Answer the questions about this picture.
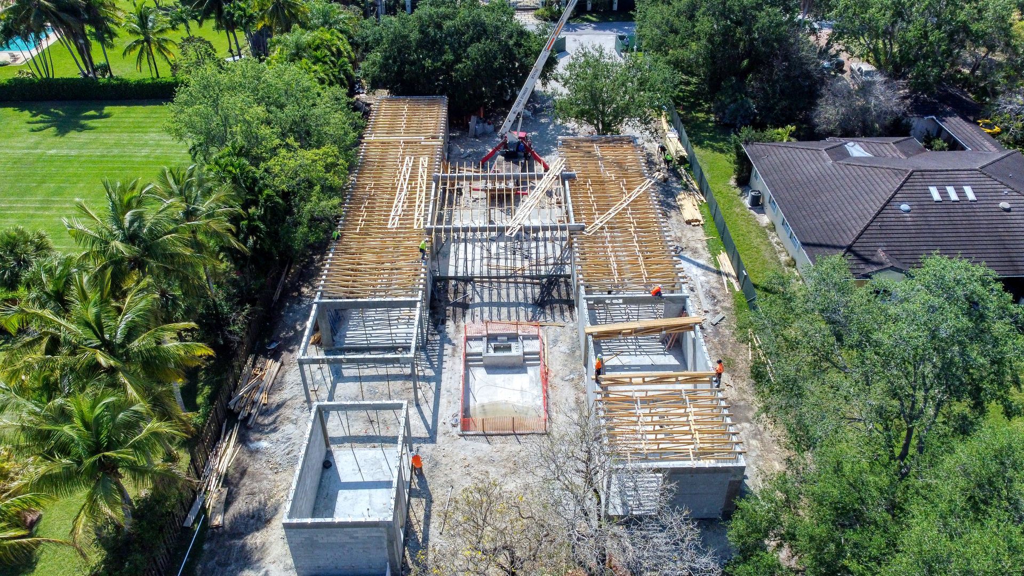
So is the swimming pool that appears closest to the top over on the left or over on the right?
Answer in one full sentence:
The swimming pool that appears closest to the top appears in the left half of the scene.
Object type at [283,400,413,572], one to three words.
building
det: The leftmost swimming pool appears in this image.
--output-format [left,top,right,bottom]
[0,16,60,66]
